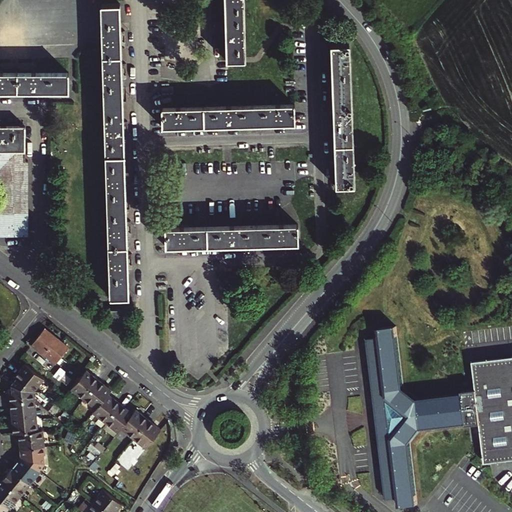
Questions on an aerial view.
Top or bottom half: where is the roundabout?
bottom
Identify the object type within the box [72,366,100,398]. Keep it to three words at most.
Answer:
house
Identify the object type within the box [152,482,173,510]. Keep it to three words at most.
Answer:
bus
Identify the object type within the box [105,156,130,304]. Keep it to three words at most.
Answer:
building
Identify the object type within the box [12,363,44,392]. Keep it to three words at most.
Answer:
house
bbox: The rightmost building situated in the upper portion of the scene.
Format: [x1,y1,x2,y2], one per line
[330,46,355,192]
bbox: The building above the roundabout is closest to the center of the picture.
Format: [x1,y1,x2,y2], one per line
[164,224,298,253]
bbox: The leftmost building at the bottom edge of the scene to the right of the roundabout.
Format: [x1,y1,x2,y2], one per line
[364,326,463,508]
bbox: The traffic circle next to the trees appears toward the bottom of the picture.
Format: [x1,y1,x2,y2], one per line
[192,389,271,468]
